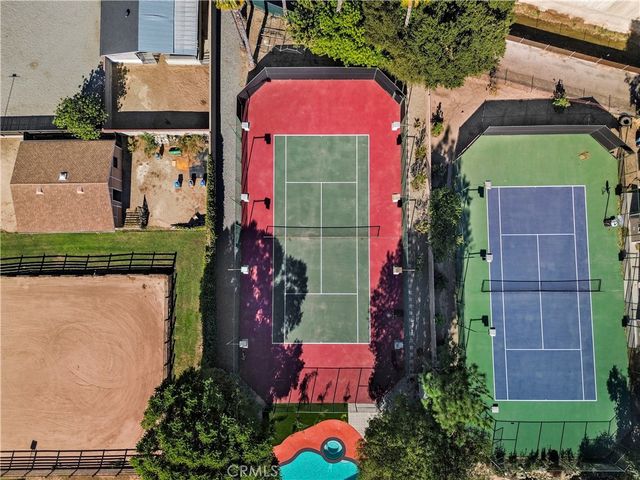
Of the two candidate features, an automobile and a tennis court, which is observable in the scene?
tennis court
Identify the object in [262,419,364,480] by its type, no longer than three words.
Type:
swimming pool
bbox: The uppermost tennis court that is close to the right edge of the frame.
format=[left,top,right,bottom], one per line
[458,134,632,454]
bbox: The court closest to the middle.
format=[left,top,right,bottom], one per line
[241,80,402,403]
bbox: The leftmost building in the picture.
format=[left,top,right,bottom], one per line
[14,141,126,231]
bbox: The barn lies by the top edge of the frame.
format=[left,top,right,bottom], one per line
[106,0,206,65]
